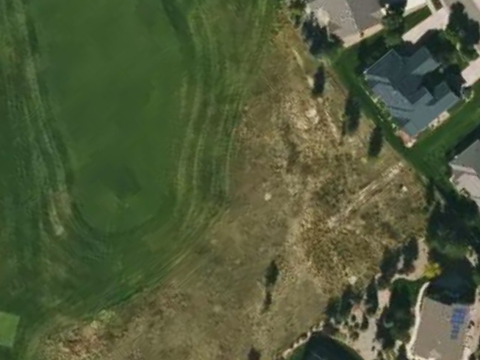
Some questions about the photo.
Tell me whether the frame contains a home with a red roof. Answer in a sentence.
No, the frame has no home with a red roof in it.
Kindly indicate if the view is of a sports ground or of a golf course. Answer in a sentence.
This looks like a golf course.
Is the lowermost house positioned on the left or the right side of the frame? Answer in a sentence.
The lowermost house sits on the right side.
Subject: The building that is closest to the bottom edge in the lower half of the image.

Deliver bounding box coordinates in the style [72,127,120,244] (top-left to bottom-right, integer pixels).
[415,297,474,360]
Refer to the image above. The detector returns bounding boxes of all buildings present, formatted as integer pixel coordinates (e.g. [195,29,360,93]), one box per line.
[415,297,474,360]
[449,143,480,210]
[313,0,392,47]
[363,48,458,137]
